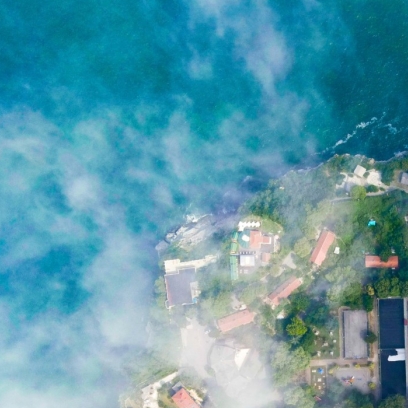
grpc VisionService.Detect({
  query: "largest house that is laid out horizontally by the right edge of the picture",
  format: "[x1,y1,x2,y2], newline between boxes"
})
[364,256,398,270]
